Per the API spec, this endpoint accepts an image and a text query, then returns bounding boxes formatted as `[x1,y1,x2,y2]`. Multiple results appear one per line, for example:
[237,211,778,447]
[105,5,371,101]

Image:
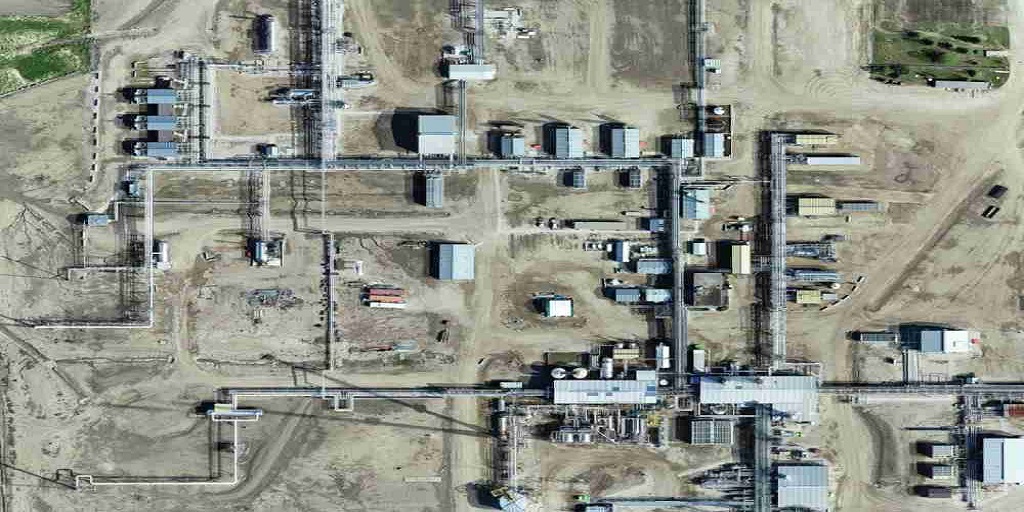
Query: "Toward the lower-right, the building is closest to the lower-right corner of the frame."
[983,437,1024,487]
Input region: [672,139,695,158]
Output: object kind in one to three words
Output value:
building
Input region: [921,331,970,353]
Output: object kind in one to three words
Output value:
building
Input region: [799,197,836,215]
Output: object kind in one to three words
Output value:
shed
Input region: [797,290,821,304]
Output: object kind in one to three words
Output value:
shed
